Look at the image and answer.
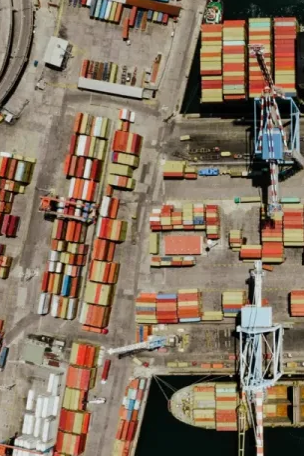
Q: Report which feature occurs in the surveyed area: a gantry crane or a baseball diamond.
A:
gantry crane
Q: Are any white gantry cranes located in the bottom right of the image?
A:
Yes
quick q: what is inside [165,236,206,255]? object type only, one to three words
building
